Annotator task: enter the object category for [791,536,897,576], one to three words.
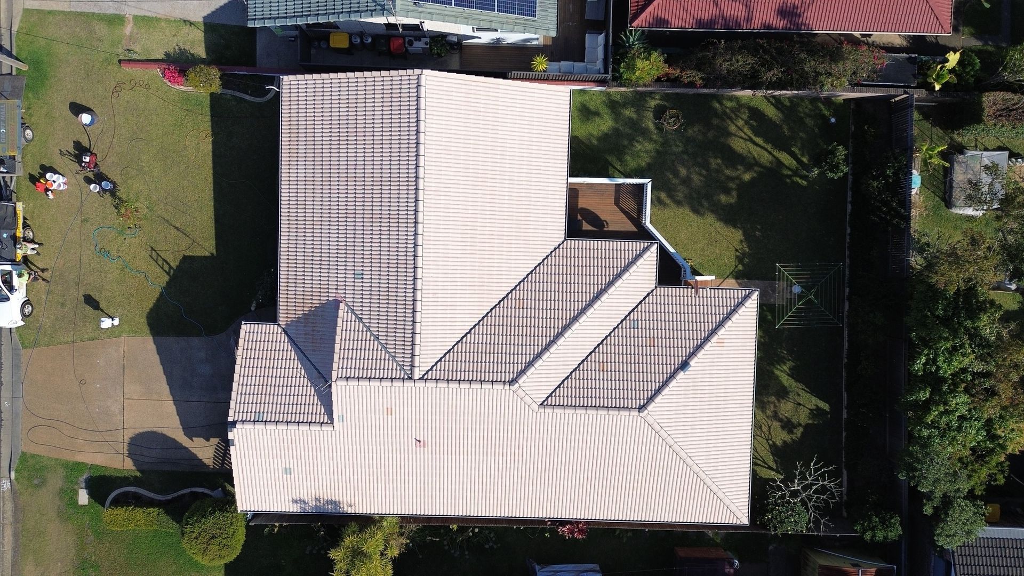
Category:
shed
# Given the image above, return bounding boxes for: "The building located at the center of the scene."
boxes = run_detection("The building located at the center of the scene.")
[227,67,761,527]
